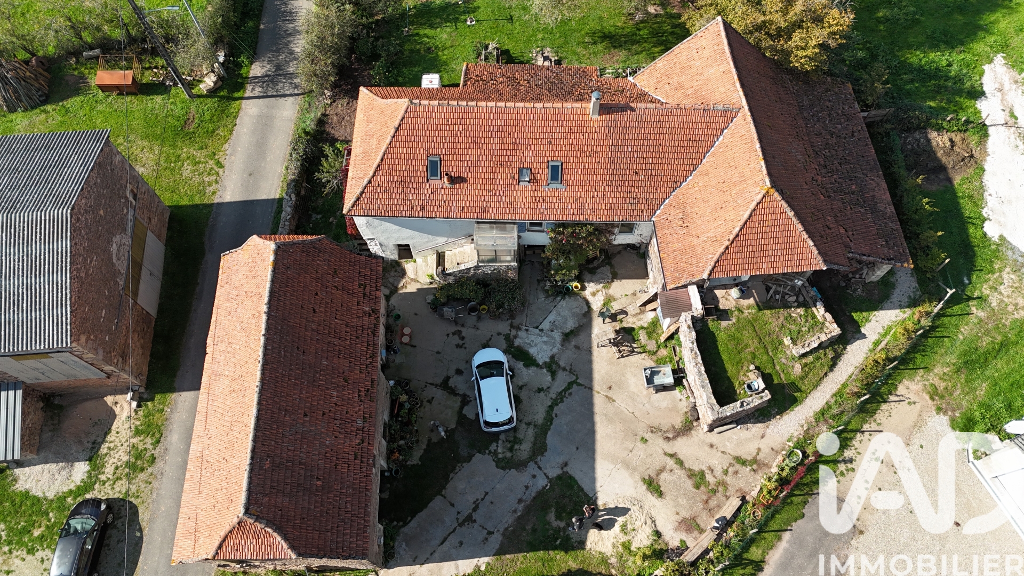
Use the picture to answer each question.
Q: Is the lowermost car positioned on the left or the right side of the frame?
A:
left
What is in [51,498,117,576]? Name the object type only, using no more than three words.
car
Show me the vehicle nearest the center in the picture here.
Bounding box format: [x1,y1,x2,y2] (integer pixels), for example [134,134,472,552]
[471,352,518,434]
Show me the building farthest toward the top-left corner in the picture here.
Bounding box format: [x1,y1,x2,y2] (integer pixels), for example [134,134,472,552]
[0,125,170,392]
